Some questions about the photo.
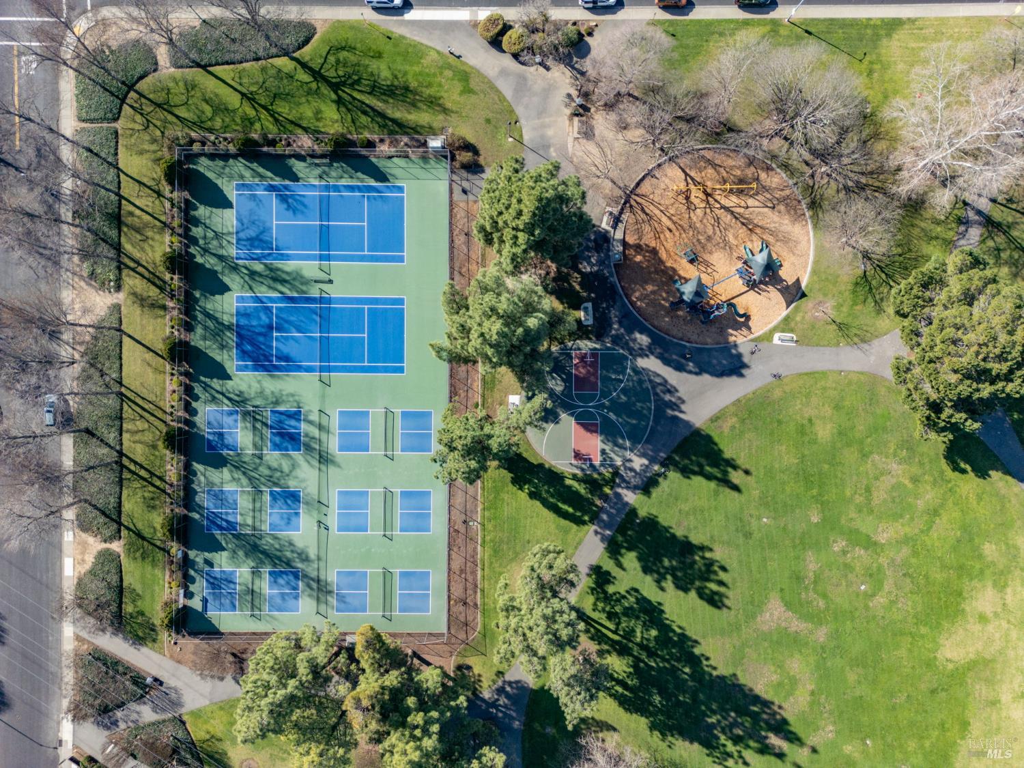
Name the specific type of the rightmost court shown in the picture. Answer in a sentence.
It turns out the rightmost court is a basketball court.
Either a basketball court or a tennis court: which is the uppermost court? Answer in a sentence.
I'd say the uppermost court is a tennis court.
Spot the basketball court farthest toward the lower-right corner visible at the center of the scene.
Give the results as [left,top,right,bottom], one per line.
[524,340,655,471]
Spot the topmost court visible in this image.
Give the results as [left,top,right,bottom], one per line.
[234,182,406,264]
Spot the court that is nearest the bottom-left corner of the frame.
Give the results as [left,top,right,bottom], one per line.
[204,569,301,613]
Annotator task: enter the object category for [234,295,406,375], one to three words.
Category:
tennis court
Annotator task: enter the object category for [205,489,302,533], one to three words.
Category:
sports court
